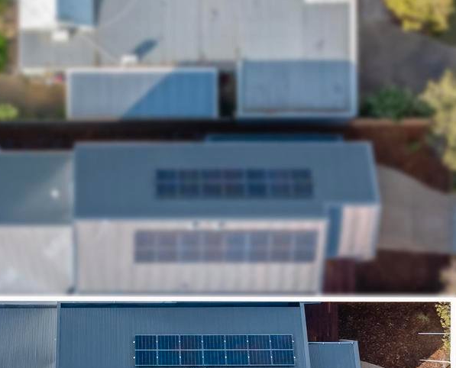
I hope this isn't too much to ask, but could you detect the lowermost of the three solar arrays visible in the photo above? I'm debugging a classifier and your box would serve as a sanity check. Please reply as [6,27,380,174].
[133,335,295,364]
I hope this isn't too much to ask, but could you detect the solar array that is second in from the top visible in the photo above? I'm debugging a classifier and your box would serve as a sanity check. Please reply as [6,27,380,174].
[131,234,316,266]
